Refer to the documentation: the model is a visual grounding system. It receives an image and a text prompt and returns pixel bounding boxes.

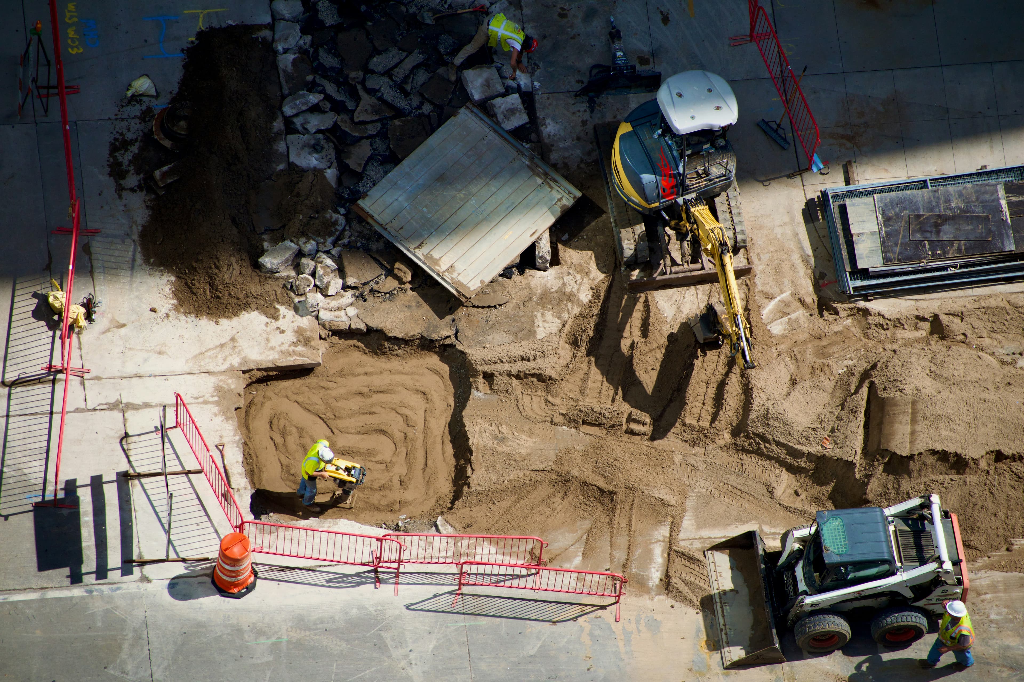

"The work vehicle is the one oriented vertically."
[596,66,761,376]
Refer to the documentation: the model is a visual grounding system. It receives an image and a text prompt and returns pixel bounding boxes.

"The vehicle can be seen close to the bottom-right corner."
[706,500,974,670]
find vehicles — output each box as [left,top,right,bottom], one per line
[596,66,761,376]
[706,500,974,670]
